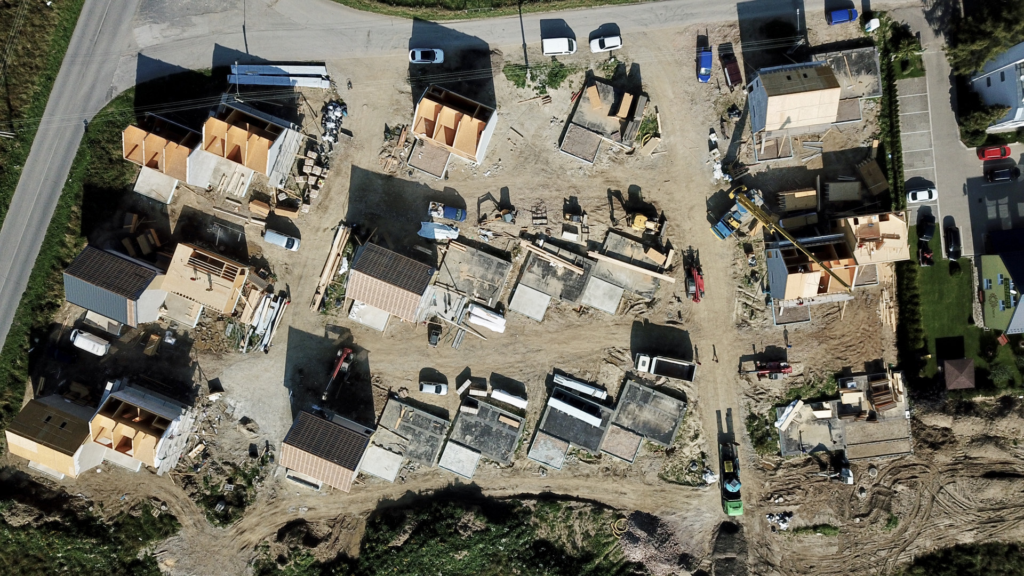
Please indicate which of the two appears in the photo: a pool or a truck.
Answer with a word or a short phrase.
truck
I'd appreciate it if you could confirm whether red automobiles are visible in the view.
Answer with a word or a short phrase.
Yes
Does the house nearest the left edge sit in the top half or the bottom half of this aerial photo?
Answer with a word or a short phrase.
bottom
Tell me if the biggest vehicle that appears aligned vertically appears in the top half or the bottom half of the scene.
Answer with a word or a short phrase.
bottom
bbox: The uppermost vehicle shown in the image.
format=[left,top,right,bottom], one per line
[823,7,858,25]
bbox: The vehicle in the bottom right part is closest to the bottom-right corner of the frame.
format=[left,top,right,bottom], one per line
[814,468,857,482]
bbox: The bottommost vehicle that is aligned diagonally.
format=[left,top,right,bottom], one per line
[323,348,355,398]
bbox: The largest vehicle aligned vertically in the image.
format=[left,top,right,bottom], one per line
[720,442,745,519]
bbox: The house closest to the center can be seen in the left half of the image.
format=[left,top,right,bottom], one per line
[344,242,436,323]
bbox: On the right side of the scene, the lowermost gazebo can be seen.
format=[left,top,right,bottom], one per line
[938,359,975,390]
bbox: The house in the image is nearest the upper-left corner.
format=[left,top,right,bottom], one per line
[122,111,214,187]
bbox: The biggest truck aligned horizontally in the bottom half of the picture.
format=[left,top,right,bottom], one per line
[633,353,698,384]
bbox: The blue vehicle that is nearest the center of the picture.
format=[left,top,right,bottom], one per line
[427,203,467,221]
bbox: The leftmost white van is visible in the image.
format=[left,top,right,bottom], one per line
[71,329,111,357]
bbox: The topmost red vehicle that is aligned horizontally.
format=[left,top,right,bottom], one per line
[975,144,1010,161]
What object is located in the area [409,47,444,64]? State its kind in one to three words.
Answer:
car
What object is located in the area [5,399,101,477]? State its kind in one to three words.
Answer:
house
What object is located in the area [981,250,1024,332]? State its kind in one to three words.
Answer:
building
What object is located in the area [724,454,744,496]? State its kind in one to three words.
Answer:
work vehicle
